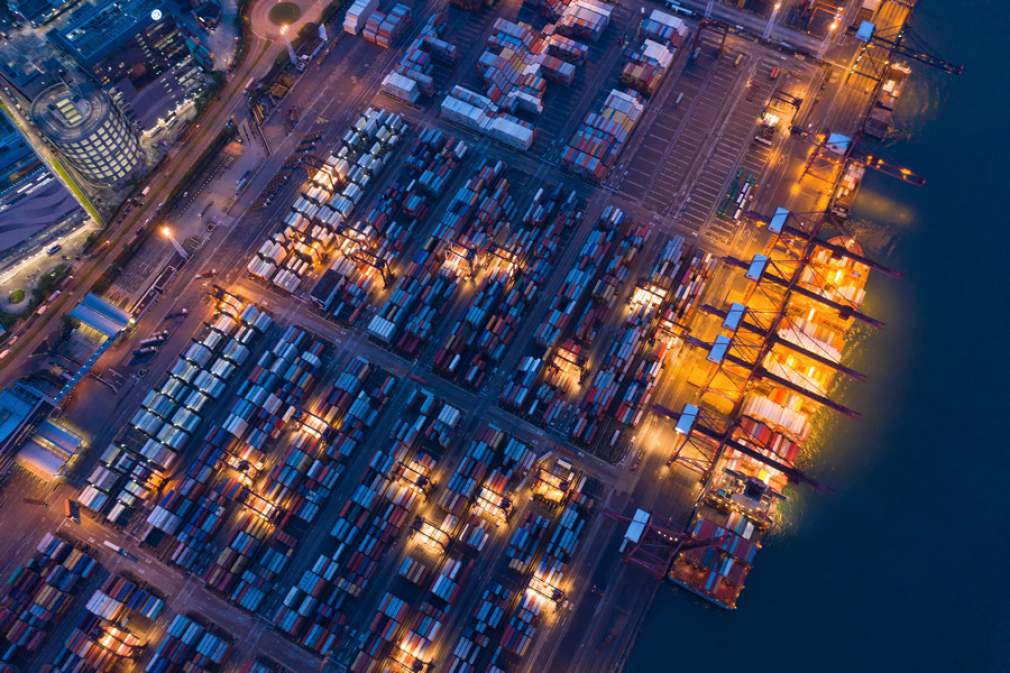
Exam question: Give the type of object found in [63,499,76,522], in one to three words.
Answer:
vehicle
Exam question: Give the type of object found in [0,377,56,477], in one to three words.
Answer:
building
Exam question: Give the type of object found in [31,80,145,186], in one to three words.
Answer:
building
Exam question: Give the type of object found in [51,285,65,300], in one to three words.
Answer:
vehicle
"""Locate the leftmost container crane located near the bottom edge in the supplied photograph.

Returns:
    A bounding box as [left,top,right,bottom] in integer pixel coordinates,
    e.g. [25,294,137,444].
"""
[97,616,155,655]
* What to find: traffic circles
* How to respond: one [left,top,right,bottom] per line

[254,0,315,36]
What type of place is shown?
port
